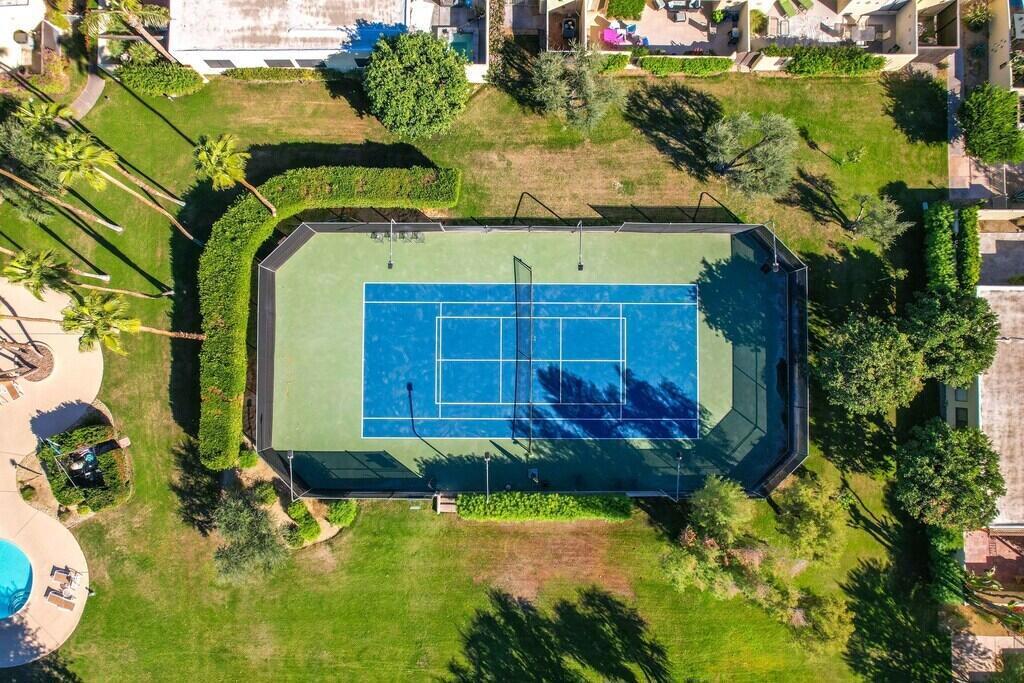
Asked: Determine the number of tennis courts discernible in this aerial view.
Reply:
1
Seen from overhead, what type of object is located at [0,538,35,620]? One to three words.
swimming pool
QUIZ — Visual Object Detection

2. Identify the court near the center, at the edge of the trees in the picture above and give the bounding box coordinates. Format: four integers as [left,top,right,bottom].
[272,231,788,495]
